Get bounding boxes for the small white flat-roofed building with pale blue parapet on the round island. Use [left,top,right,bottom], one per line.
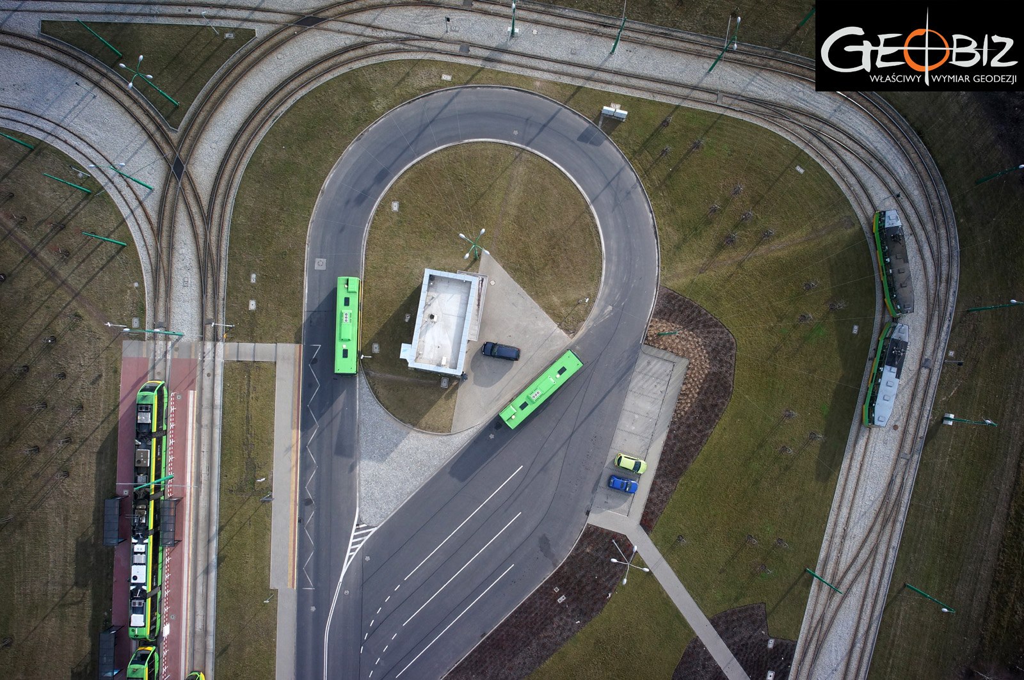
[401,269,490,375]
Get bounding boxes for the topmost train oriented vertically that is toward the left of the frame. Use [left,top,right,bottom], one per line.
[128,382,167,648]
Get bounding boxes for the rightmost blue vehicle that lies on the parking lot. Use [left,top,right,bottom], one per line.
[607,475,638,494]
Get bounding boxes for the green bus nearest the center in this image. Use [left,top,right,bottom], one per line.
[499,346,586,428]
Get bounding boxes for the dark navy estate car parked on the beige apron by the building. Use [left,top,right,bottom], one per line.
[482,340,521,360]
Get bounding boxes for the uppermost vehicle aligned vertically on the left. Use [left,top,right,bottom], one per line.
[334,277,362,378]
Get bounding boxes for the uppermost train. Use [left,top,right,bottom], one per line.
[871,209,910,319]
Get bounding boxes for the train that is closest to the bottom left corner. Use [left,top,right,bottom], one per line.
[128,645,159,680]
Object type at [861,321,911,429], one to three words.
train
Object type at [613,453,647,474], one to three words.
car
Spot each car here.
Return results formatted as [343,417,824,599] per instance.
[607,475,638,494]
[482,340,521,360]
[613,453,647,474]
